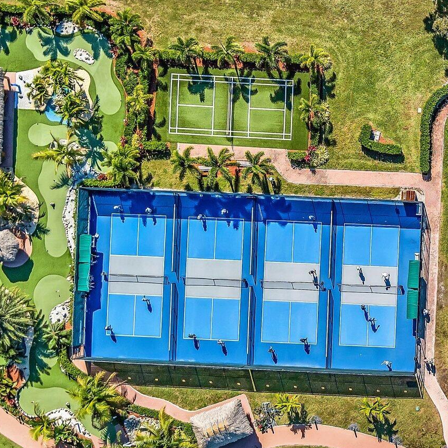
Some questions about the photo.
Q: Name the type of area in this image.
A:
sports ground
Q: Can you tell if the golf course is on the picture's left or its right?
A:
left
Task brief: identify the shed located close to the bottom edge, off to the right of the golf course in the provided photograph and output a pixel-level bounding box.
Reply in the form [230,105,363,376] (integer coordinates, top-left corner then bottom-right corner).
[191,393,255,448]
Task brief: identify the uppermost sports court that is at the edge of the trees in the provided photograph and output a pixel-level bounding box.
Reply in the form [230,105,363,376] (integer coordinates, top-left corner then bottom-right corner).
[154,66,310,150]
